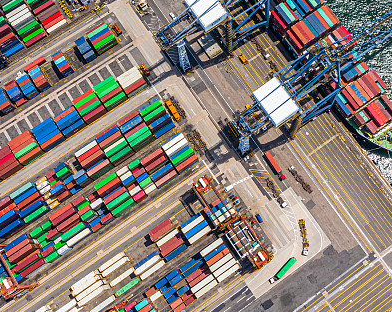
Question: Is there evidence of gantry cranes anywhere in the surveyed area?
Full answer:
Yes, looking at the shot, I can spot a gantry crane.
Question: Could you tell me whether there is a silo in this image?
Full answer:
No, there isn't any silo down there.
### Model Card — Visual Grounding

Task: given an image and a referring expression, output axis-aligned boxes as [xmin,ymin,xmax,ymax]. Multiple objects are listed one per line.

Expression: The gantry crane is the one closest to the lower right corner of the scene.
[224,205,274,271]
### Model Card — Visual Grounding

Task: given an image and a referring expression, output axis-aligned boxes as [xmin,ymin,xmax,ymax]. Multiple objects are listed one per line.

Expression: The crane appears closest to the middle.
[192,167,240,231]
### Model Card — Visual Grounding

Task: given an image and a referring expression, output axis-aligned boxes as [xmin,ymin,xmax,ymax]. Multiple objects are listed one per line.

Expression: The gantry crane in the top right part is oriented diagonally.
[226,11,392,143]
